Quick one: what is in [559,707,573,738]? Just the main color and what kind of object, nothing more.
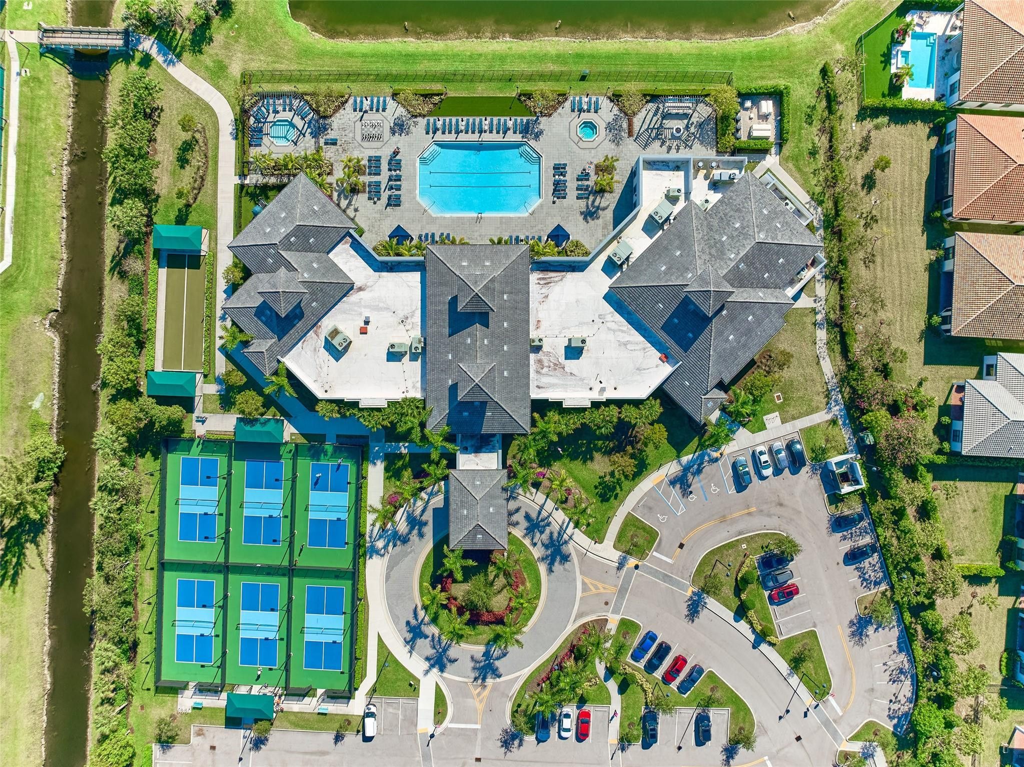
white car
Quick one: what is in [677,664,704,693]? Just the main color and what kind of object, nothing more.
blue car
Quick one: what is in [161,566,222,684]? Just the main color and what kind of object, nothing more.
green sports court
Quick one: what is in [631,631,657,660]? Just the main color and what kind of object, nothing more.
blue car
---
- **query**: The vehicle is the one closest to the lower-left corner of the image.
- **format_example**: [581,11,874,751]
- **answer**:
[363,703,378,736]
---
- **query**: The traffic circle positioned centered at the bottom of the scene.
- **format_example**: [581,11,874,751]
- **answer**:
[384,492,579,682]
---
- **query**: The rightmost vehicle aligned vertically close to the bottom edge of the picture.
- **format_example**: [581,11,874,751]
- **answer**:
[697,709,712,746]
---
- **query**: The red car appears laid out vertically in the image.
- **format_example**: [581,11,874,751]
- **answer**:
[577,708,592,739]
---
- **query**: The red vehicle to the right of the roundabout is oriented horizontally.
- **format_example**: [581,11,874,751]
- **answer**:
[768,583,800,602]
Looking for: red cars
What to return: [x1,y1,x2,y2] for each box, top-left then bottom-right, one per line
[768,583,800,602]
[577,708,592,739]
[661,653,688,684]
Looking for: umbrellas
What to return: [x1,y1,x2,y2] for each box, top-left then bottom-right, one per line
[546,222,571,244]
[388,220,415,245]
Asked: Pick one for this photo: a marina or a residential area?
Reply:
residential area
